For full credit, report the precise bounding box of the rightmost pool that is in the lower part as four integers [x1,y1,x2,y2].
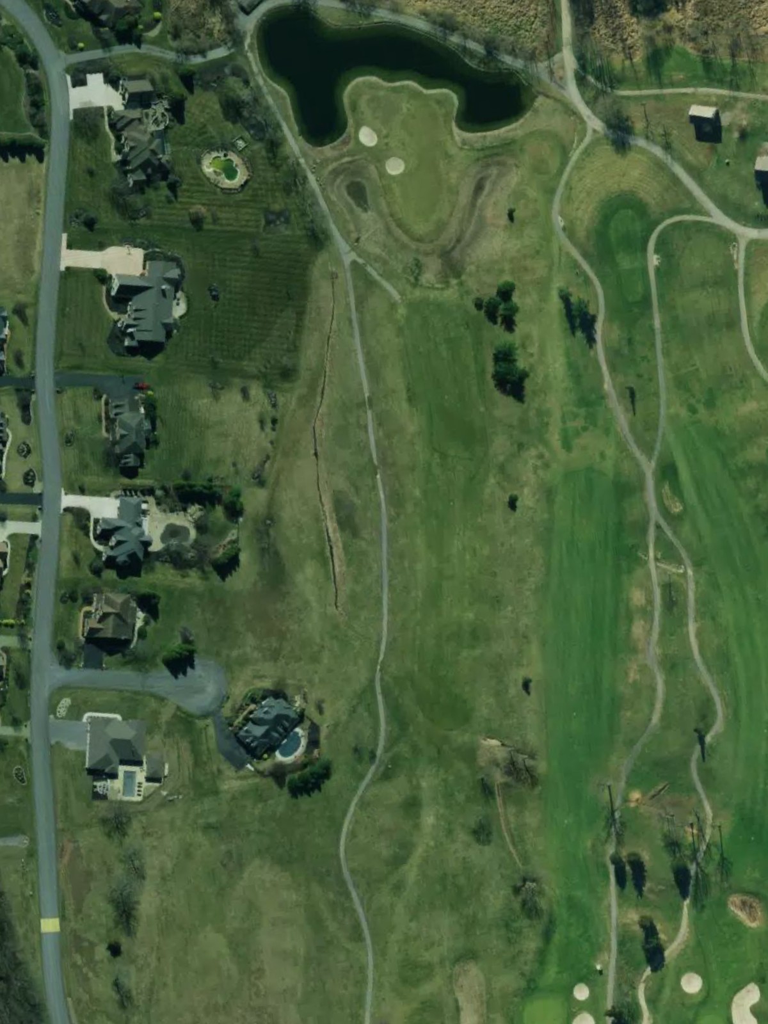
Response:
[277,730,302,759]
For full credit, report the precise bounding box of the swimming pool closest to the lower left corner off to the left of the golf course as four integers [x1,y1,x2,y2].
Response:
[122,772,137,797]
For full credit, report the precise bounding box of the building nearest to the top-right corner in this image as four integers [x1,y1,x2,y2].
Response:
[685,106,718,126]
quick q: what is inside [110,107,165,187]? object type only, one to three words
house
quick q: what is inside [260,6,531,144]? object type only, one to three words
pond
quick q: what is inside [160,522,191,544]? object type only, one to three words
swimming pool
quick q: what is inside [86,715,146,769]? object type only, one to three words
house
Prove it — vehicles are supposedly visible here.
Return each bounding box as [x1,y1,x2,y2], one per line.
[137,383,147,388]
[245,763,255,771]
